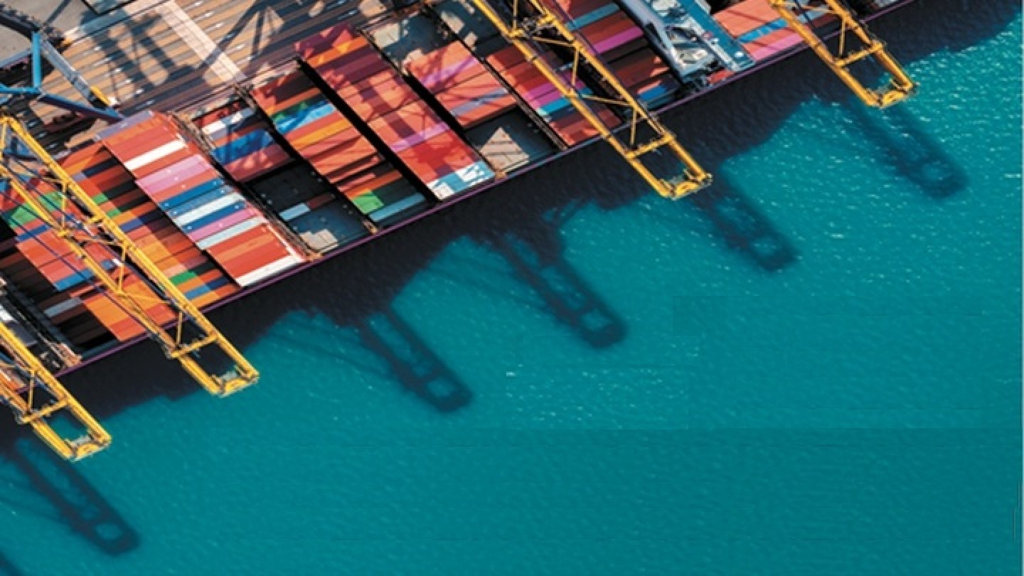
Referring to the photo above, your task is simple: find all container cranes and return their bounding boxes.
[462,0,711,199]
[758,0,922,108]
[0,318,118,460]
[0,0,264,396]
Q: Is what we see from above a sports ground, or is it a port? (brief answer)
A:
port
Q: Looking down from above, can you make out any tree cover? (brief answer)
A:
No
